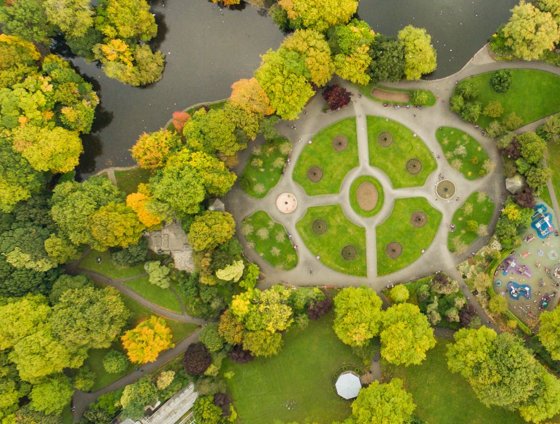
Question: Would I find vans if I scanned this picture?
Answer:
No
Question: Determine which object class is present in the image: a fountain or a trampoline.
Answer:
fountain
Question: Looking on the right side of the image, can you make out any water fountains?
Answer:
Yes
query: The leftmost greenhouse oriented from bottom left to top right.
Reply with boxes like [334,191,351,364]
[144,382,199,424]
